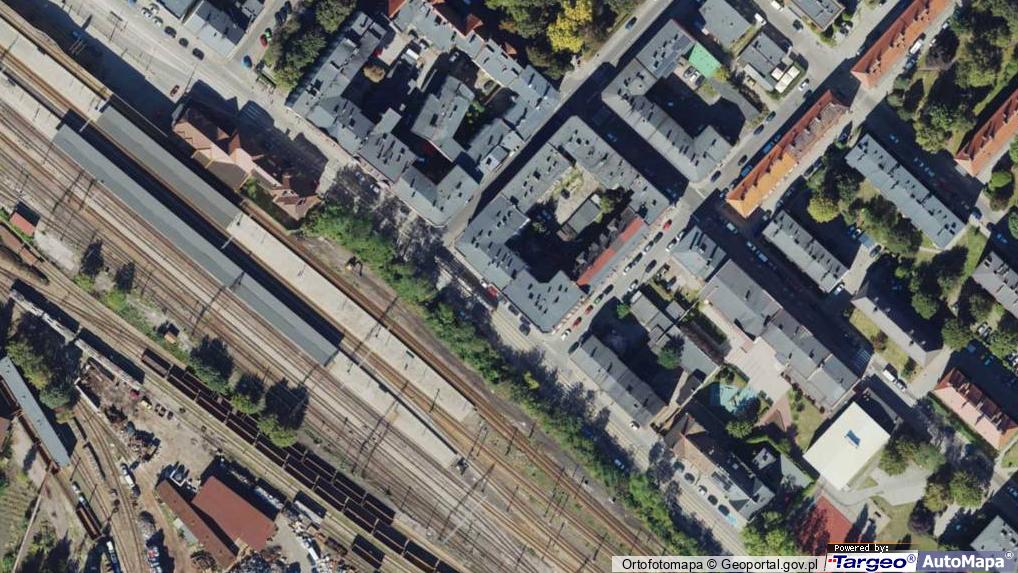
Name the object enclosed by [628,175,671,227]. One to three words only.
house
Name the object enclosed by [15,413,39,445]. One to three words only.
rail car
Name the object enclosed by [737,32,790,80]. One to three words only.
building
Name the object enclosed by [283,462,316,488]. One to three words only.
rail car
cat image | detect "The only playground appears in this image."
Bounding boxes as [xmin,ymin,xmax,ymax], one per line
[712,385,759,418]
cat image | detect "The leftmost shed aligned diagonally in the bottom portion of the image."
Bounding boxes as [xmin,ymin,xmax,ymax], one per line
[0,355,71,470]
